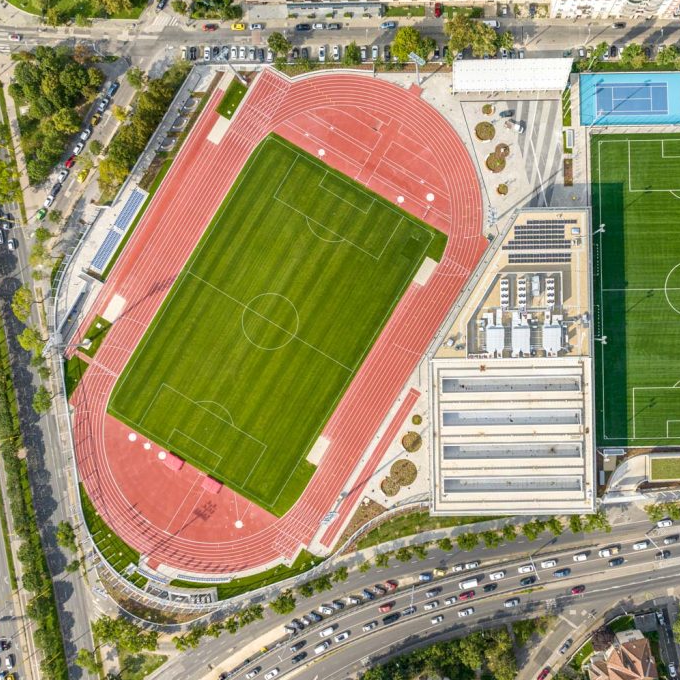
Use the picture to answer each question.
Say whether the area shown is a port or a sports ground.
sports ground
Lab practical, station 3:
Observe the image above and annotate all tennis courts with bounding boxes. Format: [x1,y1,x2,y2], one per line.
[580,71,680,125]
[597,82,668,114]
